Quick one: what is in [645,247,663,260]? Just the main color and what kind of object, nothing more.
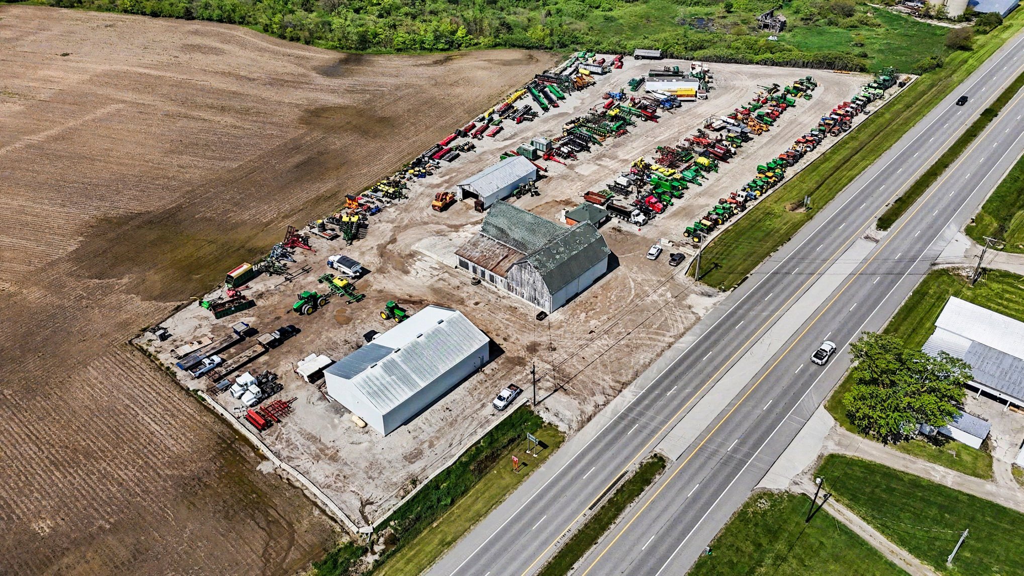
white vehicle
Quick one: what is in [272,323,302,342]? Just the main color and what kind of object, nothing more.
black vehicle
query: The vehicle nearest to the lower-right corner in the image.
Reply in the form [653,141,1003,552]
[811,343,836,365]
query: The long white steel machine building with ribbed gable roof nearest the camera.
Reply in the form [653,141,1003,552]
[320,306,491,435]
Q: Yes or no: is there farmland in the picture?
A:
Yes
